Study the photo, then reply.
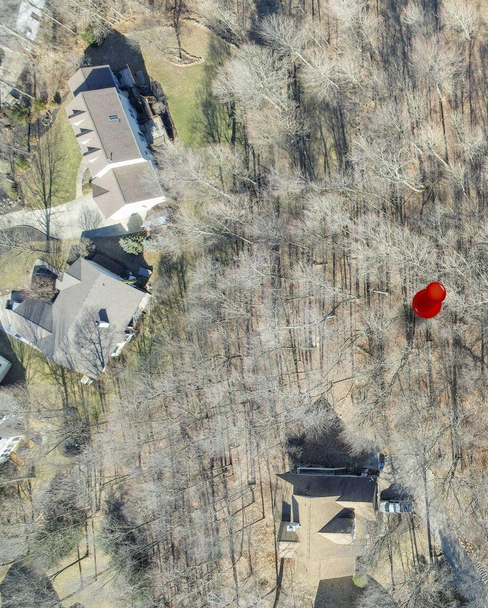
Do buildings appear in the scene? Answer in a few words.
Yes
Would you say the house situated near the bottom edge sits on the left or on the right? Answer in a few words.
right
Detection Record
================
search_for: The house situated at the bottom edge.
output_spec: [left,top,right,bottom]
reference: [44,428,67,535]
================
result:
[274,462,383,582]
